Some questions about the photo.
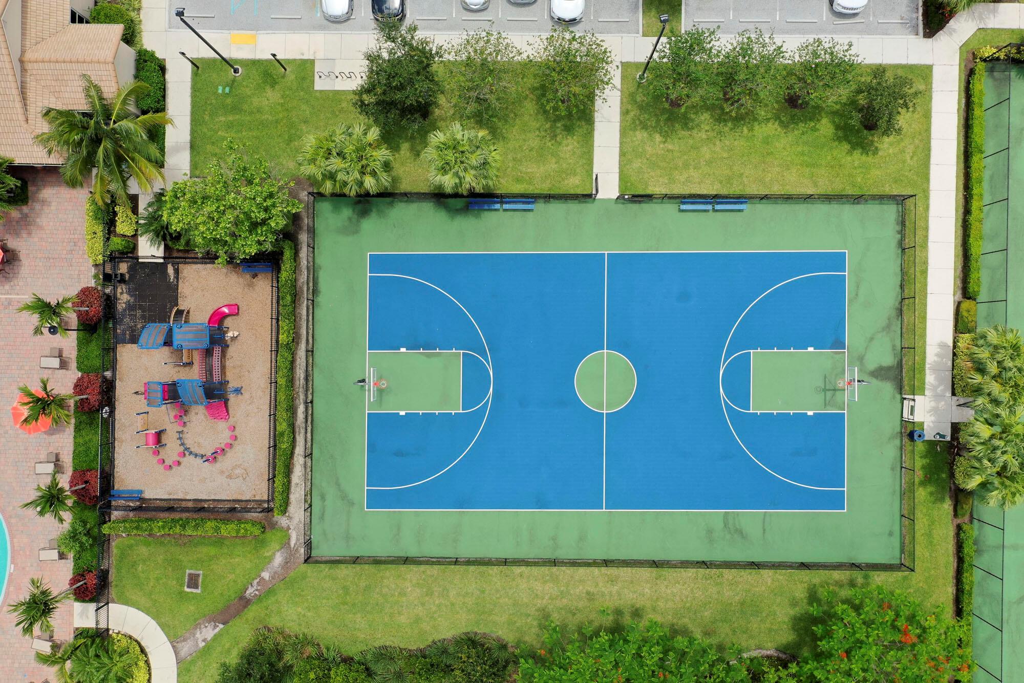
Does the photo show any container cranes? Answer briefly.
No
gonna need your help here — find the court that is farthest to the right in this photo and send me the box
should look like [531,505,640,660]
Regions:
[974,62,1024,683]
